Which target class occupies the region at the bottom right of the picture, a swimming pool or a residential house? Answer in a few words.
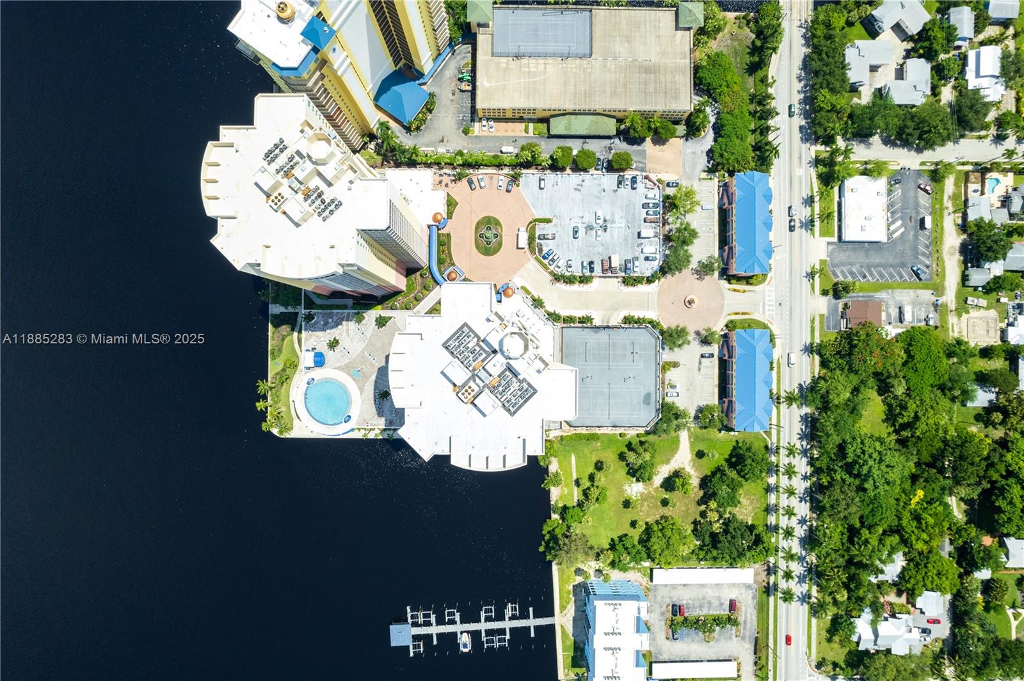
residential house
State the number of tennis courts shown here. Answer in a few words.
2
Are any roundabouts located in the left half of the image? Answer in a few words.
No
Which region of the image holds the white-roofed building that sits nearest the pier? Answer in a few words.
bottom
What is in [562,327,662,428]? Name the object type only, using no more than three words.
tennis court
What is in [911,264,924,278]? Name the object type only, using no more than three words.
vehicle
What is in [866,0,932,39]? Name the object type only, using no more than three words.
house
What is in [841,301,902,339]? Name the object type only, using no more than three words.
building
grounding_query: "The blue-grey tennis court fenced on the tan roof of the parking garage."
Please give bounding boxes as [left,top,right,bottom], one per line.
[493,6,592,57]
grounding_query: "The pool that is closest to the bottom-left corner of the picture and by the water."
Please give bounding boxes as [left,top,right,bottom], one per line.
[293,368,361,435]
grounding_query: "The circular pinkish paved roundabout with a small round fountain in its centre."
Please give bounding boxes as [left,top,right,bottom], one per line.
[656,266,727,337]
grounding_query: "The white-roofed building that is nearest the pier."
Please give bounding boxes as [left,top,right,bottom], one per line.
[580,579,649,681]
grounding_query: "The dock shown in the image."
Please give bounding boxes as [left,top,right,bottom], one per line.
[406,606,556,658]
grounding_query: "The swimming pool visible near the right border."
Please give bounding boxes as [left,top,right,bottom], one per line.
[988,177,1002,195]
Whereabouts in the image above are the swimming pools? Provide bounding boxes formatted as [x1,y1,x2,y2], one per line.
[988,177,1002,195]
[293,368,361,435]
